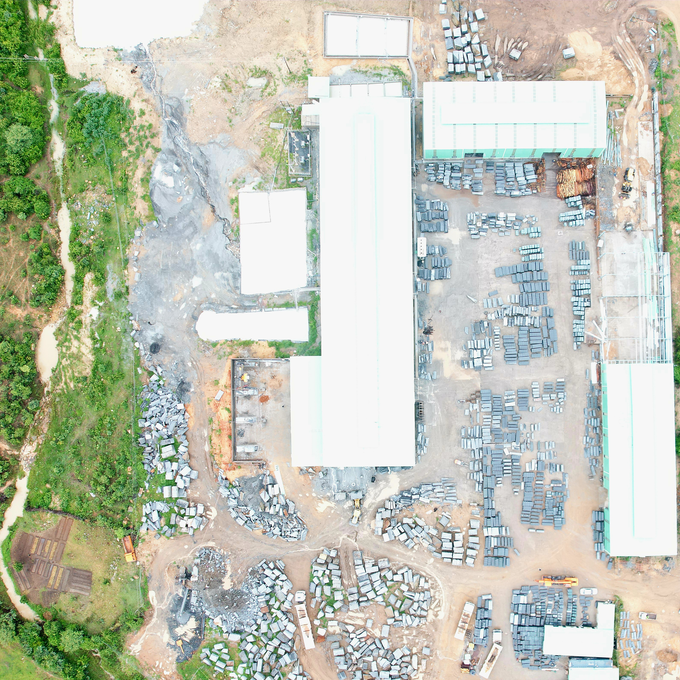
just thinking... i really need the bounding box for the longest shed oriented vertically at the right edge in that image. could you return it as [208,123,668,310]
[601,363,677,556]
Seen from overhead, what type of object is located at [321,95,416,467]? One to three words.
shed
